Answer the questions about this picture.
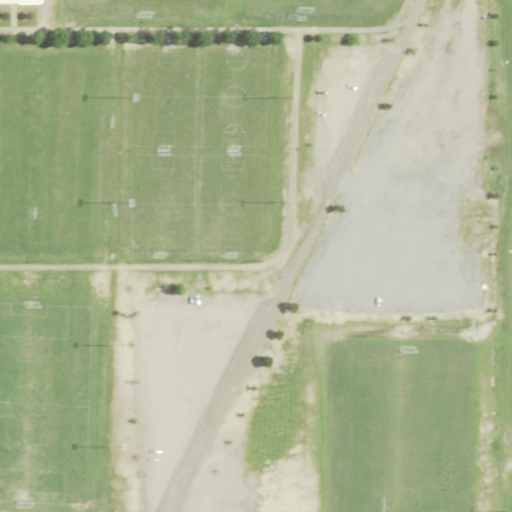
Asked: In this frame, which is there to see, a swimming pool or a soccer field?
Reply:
soccer field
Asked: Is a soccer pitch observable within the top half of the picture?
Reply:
Yes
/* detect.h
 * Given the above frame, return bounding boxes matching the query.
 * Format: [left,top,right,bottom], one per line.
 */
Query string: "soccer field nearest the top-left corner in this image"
[132,47,202,148]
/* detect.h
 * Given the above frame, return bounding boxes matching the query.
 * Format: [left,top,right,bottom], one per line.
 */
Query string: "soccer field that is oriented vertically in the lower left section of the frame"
[0,302,92,508]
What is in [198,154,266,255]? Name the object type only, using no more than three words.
soccer field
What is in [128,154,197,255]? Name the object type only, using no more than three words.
soccer field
